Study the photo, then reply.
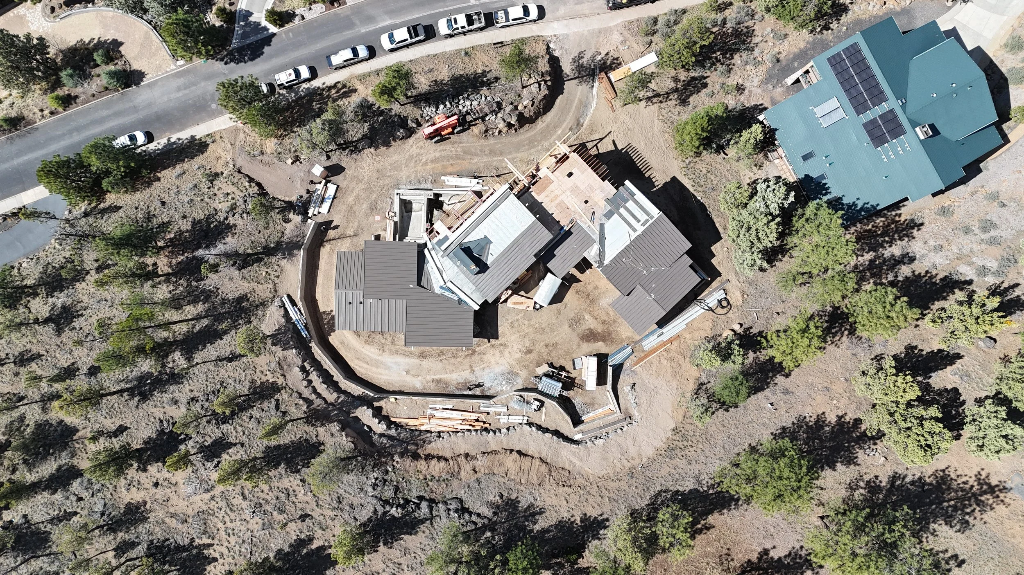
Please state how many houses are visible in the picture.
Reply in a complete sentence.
The photo contains 2 houses.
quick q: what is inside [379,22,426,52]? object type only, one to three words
truck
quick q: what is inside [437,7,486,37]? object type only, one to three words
truck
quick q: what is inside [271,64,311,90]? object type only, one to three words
car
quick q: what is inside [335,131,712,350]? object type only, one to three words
house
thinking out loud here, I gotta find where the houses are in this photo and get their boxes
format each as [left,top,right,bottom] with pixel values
[335,131,712,350]
[763,15,1003,222]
